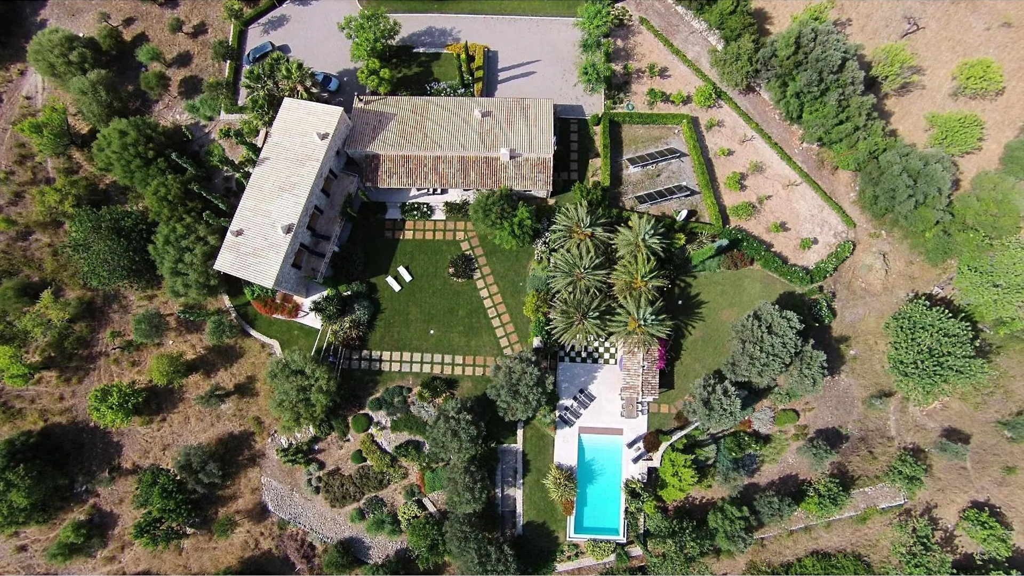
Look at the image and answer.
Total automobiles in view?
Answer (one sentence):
In total, there are 2 automobiles in the scene.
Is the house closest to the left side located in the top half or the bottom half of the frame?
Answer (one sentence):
The top half of the photo is where the house closest to the left side is.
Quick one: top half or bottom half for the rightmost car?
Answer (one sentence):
The top half of the photo is where the rightmost car is.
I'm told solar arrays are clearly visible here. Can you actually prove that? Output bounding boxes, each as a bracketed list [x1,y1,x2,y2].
[634,184,690,209]
[626,146,680,174]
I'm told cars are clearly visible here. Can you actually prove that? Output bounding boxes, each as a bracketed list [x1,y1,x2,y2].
[243,39,281,71]
[312,67,346,97]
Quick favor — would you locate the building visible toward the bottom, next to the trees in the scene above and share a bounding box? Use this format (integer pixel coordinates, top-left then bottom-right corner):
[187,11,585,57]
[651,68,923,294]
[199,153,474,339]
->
[618,345,662,400]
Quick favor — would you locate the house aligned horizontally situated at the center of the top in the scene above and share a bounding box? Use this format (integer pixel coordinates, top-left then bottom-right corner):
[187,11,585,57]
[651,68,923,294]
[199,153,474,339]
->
[345,91,556,195]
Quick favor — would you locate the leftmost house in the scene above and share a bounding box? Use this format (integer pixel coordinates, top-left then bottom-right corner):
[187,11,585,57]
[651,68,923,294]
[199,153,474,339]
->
[214,94,366,292]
